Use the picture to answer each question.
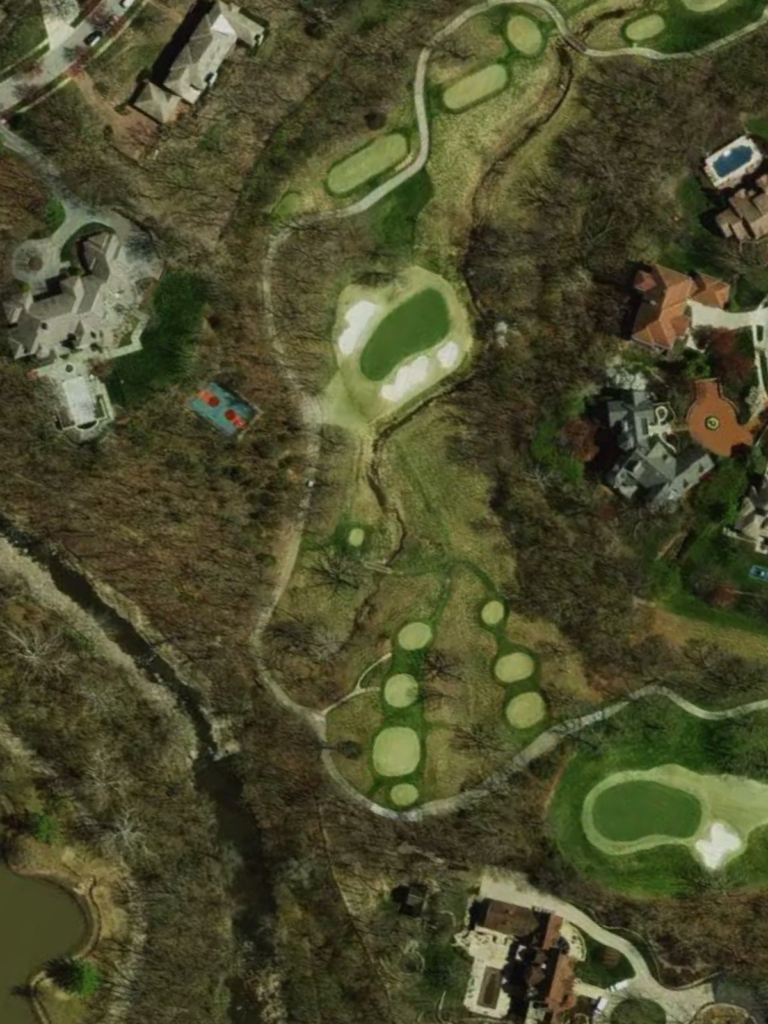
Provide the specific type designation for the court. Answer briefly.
basketball court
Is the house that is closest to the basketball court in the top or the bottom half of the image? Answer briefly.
top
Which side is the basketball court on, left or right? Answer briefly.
left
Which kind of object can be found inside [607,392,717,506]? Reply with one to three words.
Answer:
house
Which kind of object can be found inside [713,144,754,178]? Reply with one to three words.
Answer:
swimming pool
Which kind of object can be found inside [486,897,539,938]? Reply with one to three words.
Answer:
building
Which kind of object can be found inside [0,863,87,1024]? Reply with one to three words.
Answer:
pond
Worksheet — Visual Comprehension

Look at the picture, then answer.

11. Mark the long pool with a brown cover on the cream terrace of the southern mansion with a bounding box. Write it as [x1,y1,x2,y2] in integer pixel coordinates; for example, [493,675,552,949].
[476,965,504,1011]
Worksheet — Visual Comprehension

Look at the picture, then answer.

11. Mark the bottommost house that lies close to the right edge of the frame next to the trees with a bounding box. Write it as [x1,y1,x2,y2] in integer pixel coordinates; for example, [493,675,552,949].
[729,475,768,548]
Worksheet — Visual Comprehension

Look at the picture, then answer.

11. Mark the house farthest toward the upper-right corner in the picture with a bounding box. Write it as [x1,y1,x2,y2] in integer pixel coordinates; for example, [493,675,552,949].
[715,178,768,244]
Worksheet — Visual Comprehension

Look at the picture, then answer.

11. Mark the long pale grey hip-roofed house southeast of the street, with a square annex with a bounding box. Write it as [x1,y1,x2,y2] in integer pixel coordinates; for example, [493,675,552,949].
[129,0,268,124]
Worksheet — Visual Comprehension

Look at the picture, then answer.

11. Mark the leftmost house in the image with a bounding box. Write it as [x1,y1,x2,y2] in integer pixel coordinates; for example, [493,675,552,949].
[3,230,123,361]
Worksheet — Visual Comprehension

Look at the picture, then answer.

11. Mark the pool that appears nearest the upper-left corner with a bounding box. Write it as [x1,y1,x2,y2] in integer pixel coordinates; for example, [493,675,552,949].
[61,376,97,427]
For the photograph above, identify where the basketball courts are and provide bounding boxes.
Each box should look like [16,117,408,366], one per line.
[192,380,258,439]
